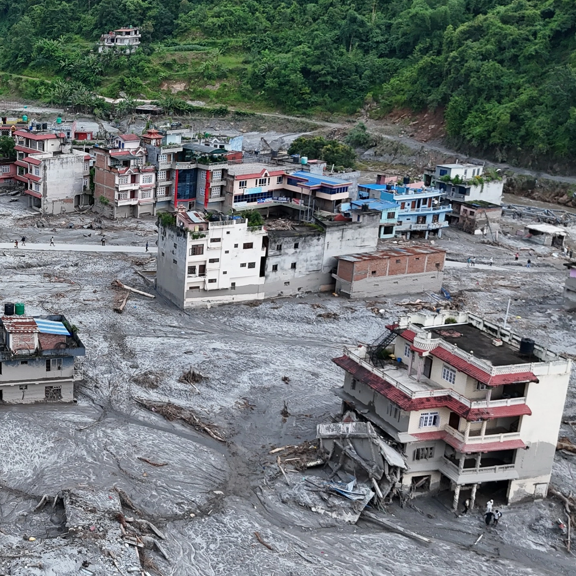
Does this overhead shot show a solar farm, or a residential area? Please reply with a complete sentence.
This image shows a residential area.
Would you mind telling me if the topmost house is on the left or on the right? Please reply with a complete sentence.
It is on the left.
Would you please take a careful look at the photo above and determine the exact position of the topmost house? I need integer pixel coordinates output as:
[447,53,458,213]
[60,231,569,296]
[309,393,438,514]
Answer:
[103,27,140,54]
